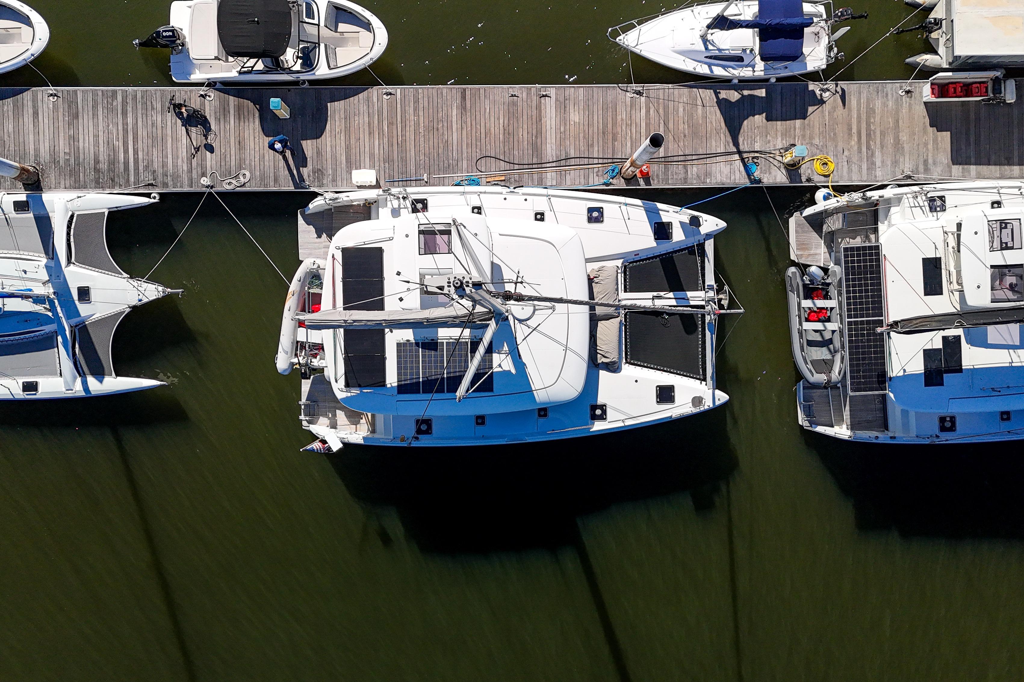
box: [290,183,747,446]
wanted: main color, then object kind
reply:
white boat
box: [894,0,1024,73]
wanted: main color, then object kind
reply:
white boat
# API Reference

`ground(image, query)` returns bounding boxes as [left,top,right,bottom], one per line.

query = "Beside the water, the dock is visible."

[0,78,1024,192]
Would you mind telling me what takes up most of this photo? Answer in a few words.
water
